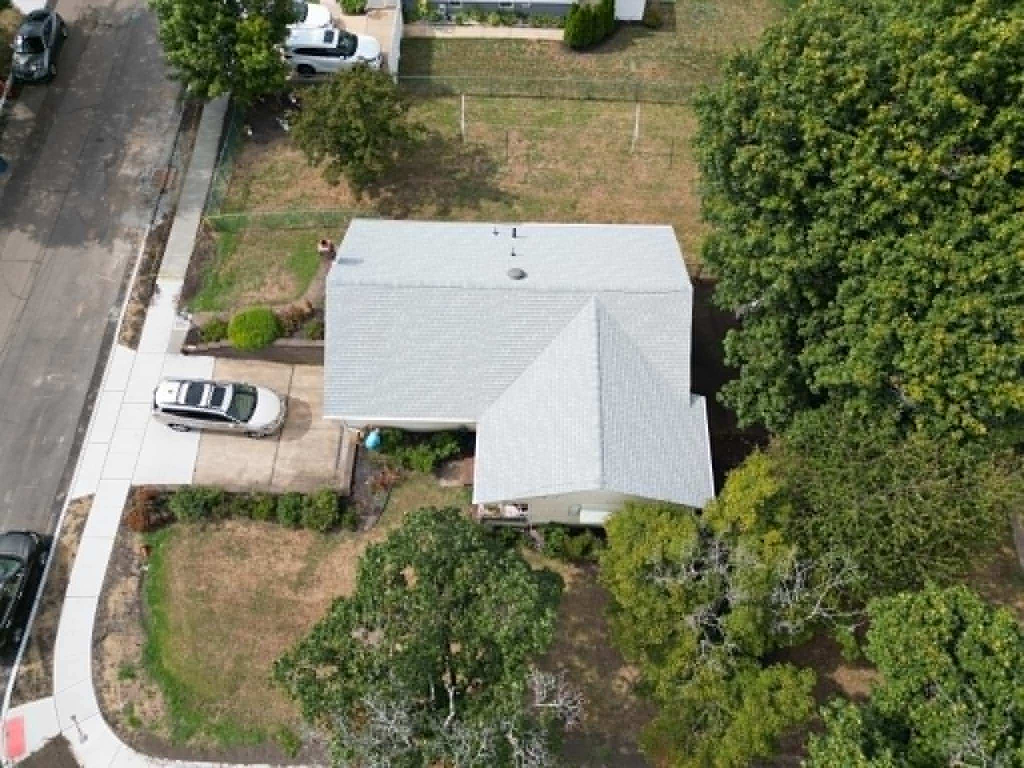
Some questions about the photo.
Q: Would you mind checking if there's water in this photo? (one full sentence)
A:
No, there's no water in this view.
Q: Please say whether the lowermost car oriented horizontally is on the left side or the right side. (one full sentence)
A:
The lowermost car oriented horizontally sits on the left side.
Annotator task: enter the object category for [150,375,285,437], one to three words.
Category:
car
